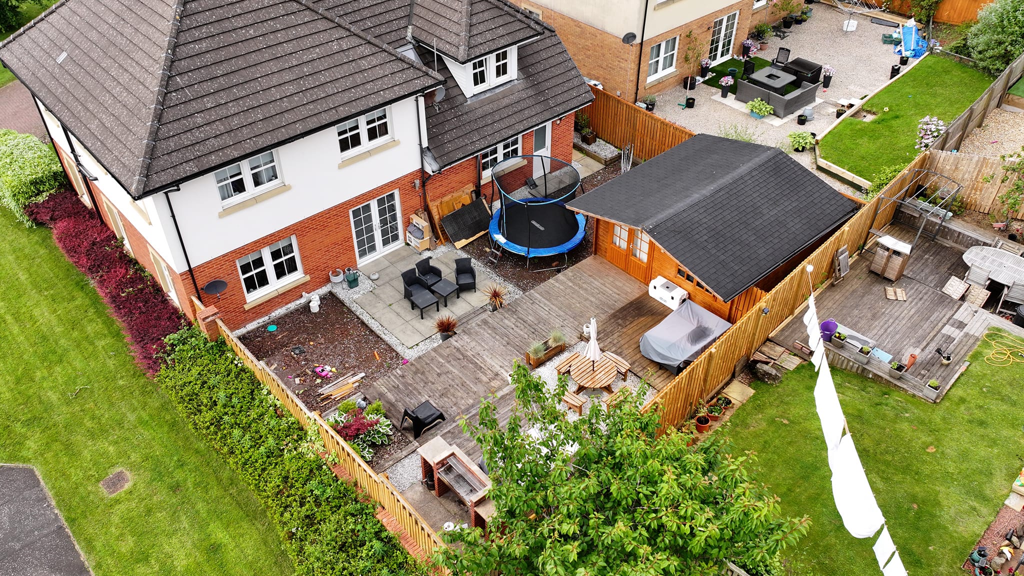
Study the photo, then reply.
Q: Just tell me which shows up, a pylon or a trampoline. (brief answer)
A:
trampoline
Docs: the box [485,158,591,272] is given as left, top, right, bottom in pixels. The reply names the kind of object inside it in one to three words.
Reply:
trampoline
